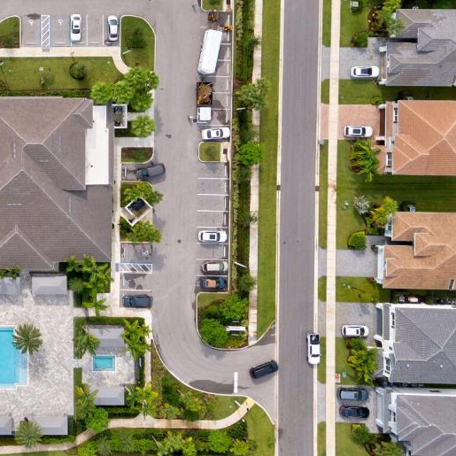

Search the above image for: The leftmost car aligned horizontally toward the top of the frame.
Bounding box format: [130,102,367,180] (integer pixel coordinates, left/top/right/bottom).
[136,163,167,180]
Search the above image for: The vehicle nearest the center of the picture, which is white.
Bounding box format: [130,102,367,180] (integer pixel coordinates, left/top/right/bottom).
[197,230,228,243]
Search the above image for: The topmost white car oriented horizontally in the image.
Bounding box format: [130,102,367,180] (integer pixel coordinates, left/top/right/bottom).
[348,66,379,79]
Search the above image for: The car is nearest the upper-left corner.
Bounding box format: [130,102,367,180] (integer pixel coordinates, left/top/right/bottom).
[69,13,83,43]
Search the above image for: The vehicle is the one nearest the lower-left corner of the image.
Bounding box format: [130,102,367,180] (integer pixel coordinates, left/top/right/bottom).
[122,294,151,307]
